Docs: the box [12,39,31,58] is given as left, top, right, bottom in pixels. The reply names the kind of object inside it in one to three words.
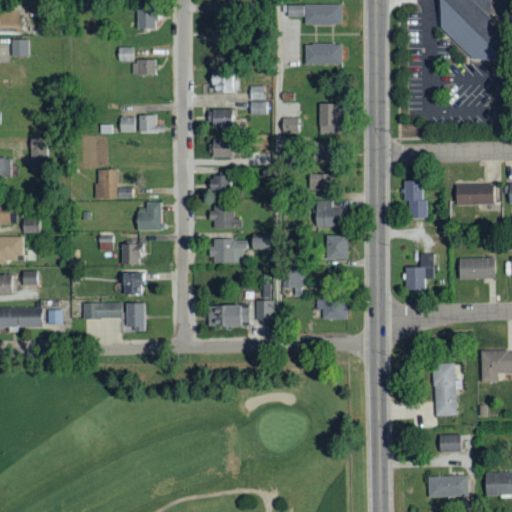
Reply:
building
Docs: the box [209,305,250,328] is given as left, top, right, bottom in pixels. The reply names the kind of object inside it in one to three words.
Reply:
house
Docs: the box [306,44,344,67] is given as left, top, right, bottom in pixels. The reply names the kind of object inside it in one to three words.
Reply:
building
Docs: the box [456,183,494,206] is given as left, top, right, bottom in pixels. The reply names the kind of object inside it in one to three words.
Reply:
house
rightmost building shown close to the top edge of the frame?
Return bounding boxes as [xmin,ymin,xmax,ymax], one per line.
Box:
[444,0,492,64]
